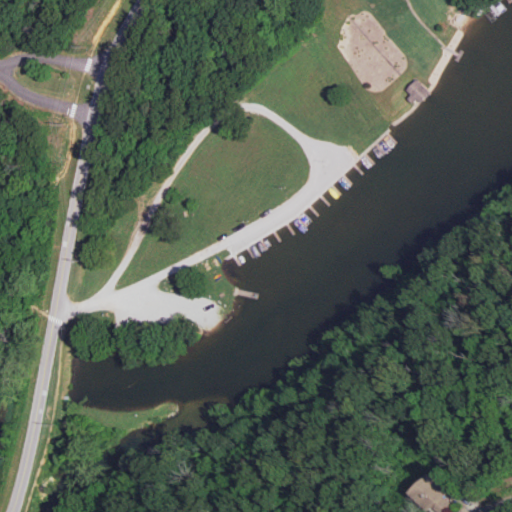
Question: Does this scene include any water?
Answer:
Yes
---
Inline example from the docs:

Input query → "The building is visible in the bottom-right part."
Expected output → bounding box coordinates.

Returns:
[408,477,448,512]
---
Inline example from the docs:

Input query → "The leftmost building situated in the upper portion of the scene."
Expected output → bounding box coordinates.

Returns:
[405,77,431,104]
